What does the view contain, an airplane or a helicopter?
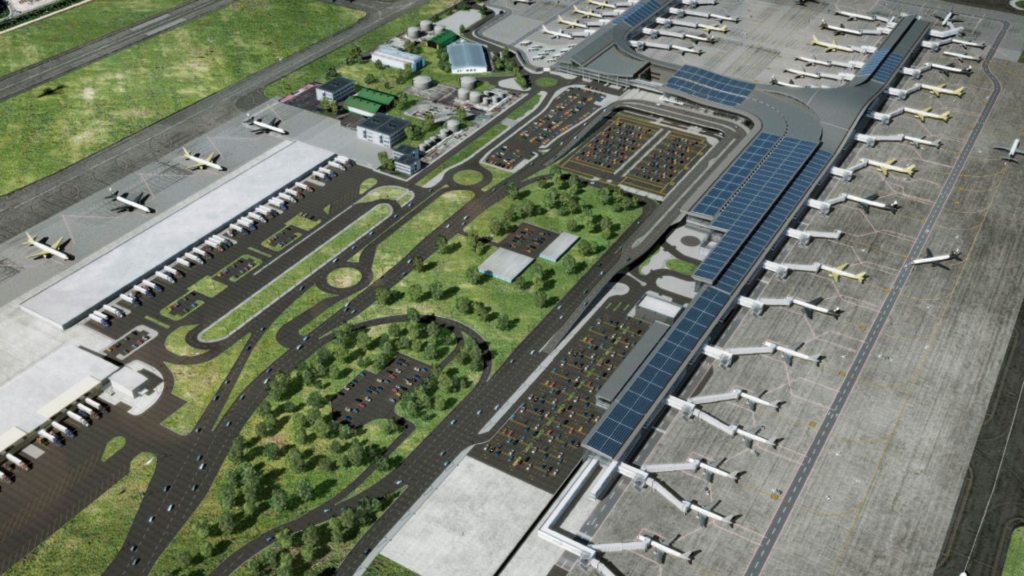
airplane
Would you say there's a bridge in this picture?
Yes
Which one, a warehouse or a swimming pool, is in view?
warehouse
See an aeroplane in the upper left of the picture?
Yes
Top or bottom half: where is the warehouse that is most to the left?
bottom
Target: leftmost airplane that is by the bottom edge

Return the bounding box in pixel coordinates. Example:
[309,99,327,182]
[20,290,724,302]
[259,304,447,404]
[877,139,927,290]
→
[637,531,694,567]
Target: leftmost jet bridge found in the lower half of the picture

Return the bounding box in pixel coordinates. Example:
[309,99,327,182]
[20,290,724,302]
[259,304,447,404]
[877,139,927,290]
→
[581,536,651,576]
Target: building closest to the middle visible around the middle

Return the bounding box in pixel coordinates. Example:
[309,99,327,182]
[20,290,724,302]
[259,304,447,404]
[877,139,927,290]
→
[479,246,535,283]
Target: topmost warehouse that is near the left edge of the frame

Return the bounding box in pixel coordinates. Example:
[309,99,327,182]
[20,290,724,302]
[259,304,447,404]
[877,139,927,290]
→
[20,140,337,332]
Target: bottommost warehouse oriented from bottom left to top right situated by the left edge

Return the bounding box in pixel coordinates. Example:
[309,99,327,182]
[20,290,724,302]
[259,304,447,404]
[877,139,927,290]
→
[0,345,121,468]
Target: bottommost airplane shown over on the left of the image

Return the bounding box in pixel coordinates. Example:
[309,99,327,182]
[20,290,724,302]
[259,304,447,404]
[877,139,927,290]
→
[20,229,69,261]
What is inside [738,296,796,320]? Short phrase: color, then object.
white jet bridge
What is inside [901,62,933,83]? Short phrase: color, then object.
white jet bridge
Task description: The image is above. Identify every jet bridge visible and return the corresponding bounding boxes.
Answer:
[668,390,743,436]
[703,345,777,372]
[830,159,871,186]
[764,260,822,282]
[615,0,640,10]
[586,21,612,30]
[901,62,933,83]
[738,296,796,320]
[601,10,627,20]
[922,37,954,56]
[642,29,685,42]
[873,16,895,29]
[617,459,701,513]
[807,193,849,220]
[927,22,965,43]
[629,41,671,54]
[655,19,698,32]
[855,134,906,151]
[850,46,874,54]
[681,0,719,11]
[669,8,711,21]
[787,229,843,250]
[572,32,598,41]
[581,536,651,576]
[885,83,923,105]
[866,106,907,128]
